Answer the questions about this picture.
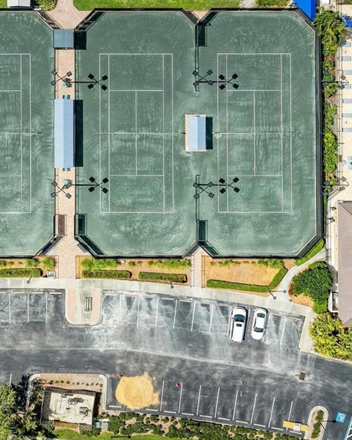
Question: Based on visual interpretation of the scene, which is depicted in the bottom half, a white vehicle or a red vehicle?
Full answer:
There is a white vehicle in the bottom half.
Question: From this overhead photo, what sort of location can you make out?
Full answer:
It's a sports ground.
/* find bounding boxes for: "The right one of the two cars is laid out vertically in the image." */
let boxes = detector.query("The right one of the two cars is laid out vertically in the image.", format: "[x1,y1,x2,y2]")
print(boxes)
[250,307,267,340]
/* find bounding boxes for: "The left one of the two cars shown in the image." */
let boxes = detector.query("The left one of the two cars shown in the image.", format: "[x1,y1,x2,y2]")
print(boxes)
[229,307,247,342]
